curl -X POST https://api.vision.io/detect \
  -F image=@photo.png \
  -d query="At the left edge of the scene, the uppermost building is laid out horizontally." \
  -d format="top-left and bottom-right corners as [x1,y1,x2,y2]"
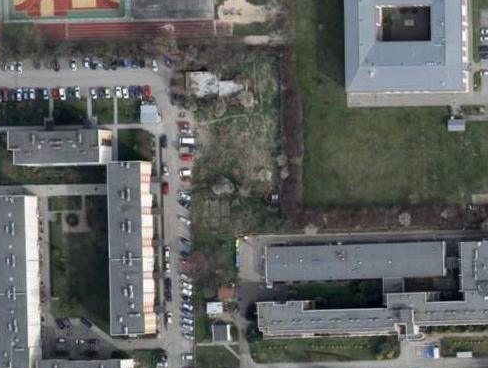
[7,129,111,166]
